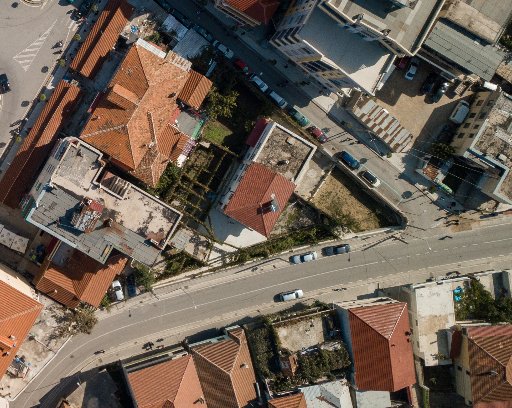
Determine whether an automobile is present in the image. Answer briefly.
Yes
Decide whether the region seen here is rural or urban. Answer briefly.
urban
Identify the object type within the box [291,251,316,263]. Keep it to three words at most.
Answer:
vehicle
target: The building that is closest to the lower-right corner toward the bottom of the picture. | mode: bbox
[447,323,512,408]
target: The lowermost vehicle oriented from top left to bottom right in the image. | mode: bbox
[358,169,381,188]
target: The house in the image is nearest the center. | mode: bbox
[216,122,317,237]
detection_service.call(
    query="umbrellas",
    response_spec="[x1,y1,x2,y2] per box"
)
[0,226,17,247]
[10,235,30,255]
